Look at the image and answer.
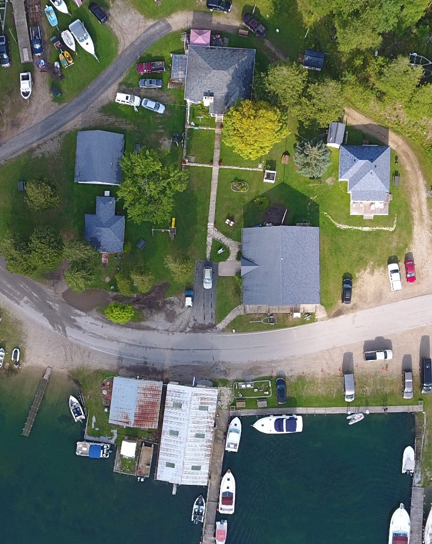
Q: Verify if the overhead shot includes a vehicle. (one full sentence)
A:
Yes, there's a vehicle down there.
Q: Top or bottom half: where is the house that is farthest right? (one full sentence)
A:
It is in the top half that the house that is farthest right appears.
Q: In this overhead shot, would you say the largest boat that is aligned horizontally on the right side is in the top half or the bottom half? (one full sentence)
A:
The largest boat that is aligned horizontally on the right side is in the bottom half of the image.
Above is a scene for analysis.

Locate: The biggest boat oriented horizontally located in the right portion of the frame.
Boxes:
[253,415,304,435]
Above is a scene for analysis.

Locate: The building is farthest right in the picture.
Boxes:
[338,145,393,219]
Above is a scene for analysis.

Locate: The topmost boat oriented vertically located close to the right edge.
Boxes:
[401,446,415,477]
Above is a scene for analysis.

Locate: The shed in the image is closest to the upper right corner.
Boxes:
[303,51,325,71]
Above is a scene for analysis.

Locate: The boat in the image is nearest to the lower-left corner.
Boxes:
[77,442,111,459]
